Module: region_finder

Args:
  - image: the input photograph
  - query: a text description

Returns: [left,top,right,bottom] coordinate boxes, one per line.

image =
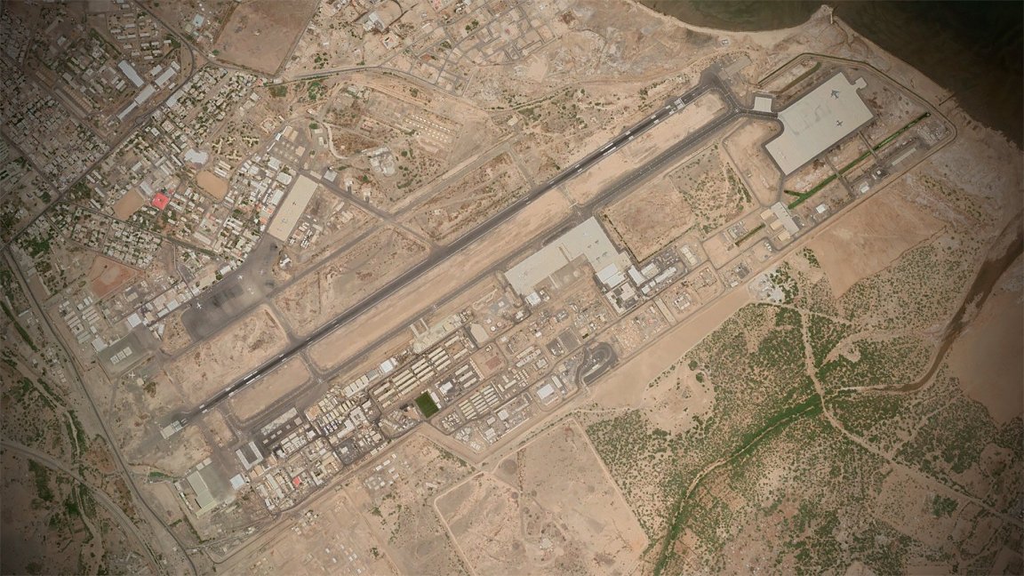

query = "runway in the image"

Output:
[173,82,707,428]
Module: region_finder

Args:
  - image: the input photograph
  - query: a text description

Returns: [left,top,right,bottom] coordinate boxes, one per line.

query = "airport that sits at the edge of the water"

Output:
[98,55,921,504]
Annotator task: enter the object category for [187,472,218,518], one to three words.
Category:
hangar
